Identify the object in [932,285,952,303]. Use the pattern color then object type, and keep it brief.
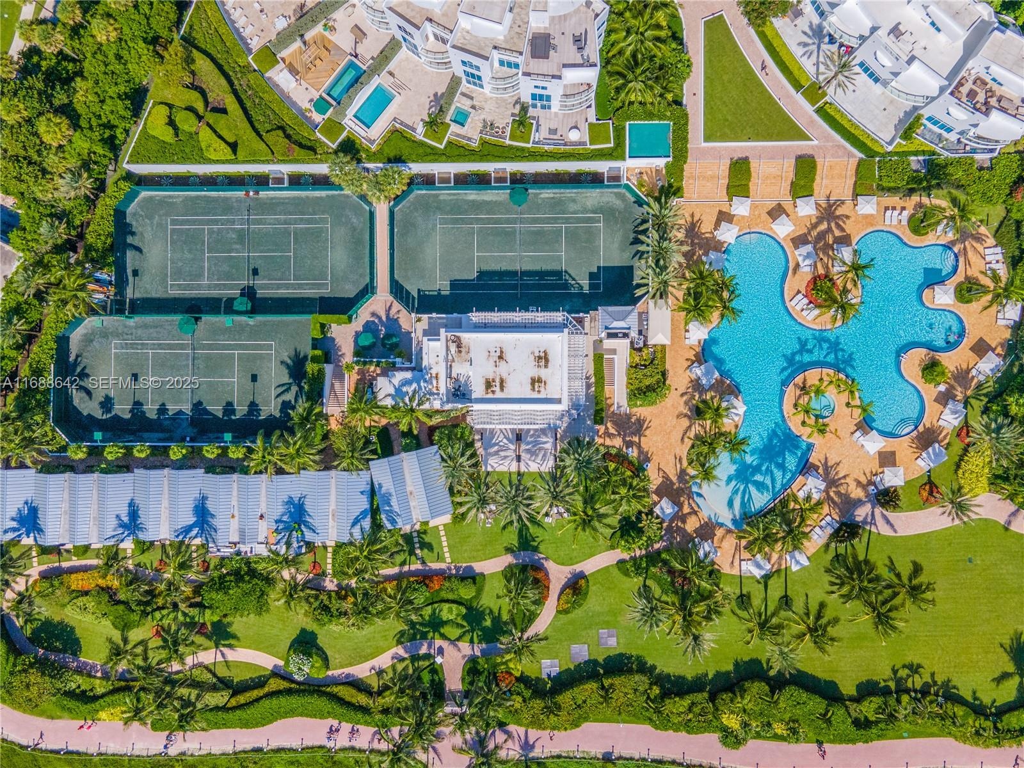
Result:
white umbrella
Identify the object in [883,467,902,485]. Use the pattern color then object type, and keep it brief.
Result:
white umbrella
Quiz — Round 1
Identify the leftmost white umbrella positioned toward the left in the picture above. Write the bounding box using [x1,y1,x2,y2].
[274,67,299,93]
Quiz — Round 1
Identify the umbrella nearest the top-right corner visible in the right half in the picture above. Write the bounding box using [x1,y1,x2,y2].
[856,196,875,213]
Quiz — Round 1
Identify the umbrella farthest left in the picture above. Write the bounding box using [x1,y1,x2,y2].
[179,316,197,334]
